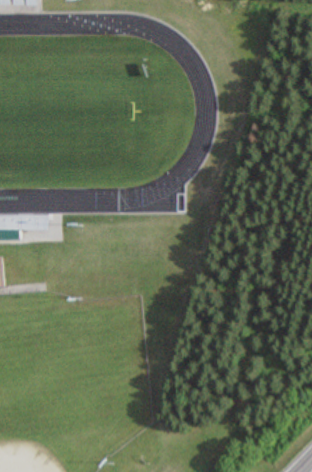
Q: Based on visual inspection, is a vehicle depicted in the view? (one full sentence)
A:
No, there isn't any vehicle down there.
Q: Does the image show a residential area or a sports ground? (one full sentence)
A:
The picture captures a sports ground.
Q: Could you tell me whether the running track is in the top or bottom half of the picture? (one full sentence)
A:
You can find the running track in the top half.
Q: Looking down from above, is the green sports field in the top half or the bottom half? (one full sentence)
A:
It is in the top half that the green sports field appears.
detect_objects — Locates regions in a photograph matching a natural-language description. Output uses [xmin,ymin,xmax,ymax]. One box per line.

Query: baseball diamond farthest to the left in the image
[0,441,63,472]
